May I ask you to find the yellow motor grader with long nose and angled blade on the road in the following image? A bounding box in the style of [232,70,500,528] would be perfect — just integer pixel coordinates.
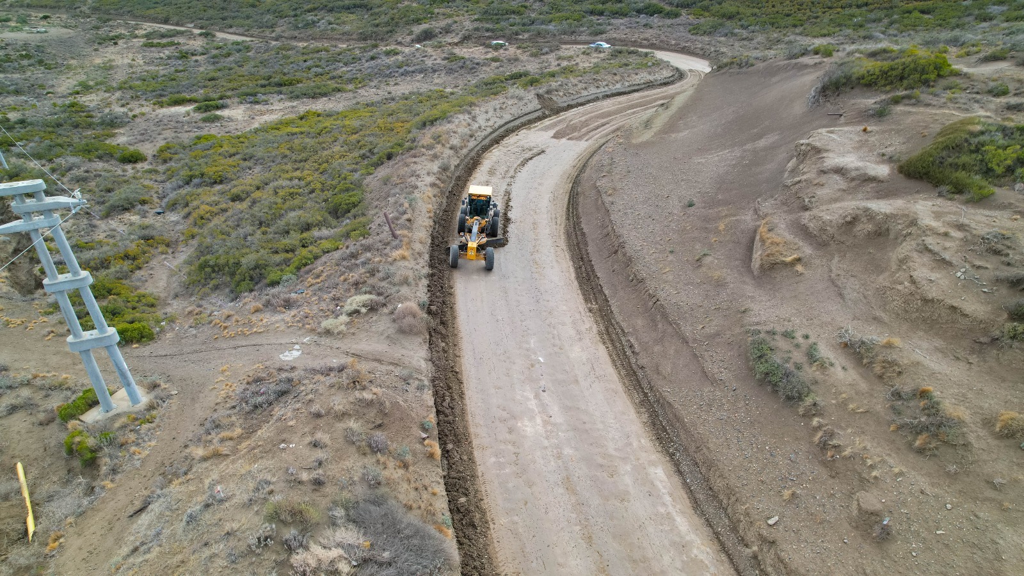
[446,185,506,271]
